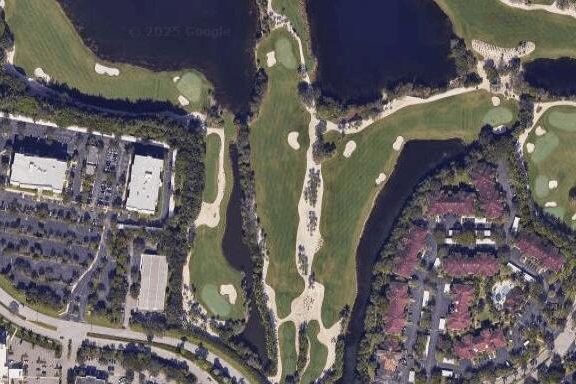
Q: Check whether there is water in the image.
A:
Yes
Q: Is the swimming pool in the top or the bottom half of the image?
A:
bottom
